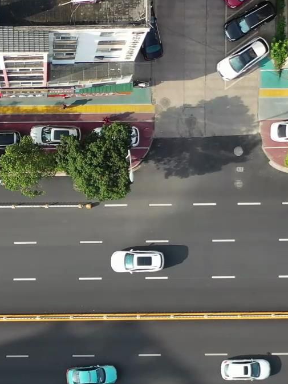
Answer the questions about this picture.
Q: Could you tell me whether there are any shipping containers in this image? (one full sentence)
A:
No, the frame has no shipping container in it.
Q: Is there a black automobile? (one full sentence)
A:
Yes, looking at the shot, I can spot a black automobile.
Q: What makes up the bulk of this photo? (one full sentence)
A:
For the most part, this view shows paved ground.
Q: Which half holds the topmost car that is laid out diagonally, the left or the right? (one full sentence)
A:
The topmost car that is laid out diagonally is on the right side of the image.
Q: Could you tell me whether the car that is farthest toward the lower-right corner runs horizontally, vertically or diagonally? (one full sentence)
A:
In this picture, the car that is farthest toward the lower-right corner is oriented horizontally.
